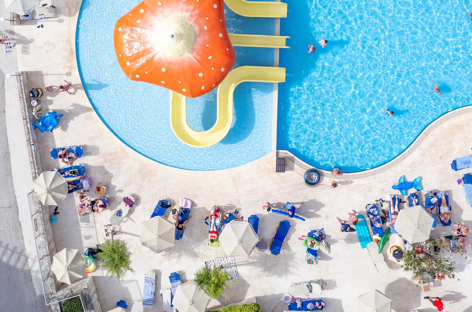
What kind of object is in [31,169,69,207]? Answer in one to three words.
umbrella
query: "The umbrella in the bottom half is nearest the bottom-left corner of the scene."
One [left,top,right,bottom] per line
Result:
[52,247,88,283]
